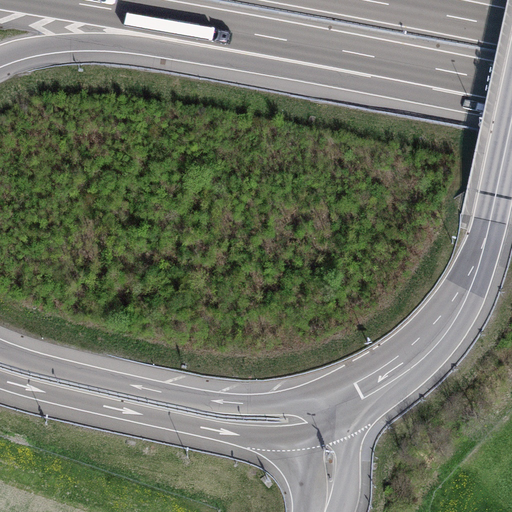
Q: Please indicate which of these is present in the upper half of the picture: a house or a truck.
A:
truck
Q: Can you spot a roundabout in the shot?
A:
No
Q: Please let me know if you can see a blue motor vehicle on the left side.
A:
No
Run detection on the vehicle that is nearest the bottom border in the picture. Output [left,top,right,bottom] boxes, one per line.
[462,100,486,114]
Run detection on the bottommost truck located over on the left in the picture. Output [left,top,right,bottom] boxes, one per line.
[124,12,232,46]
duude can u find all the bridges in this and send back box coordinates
[454,0,512,225]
